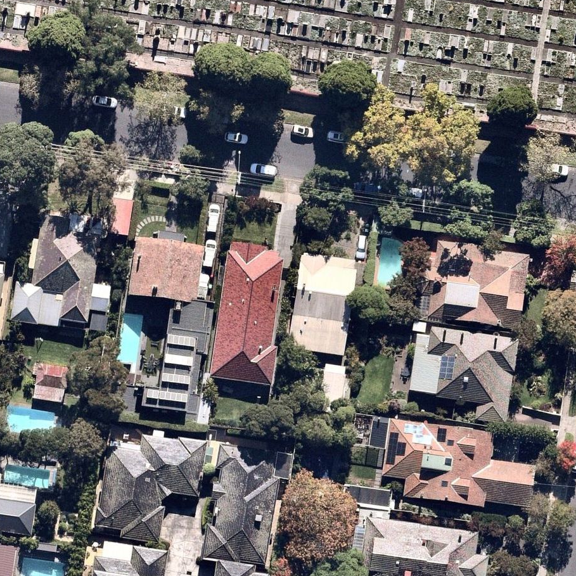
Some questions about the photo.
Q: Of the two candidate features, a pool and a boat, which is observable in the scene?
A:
pool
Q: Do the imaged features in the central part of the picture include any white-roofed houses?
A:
Yes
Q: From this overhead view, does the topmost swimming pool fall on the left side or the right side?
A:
right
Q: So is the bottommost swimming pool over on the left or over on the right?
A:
left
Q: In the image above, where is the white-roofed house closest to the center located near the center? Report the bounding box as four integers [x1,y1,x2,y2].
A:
[289,257,357,357]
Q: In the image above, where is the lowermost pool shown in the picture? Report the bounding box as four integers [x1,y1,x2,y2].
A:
[21,556,65,576]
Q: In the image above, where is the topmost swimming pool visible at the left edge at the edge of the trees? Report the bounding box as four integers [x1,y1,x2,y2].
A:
[8,405,57,433]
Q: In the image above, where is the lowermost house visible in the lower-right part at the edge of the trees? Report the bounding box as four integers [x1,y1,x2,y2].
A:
[363,509,492,576]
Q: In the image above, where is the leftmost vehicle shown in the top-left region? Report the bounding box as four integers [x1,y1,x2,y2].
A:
[91,95,118,108]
